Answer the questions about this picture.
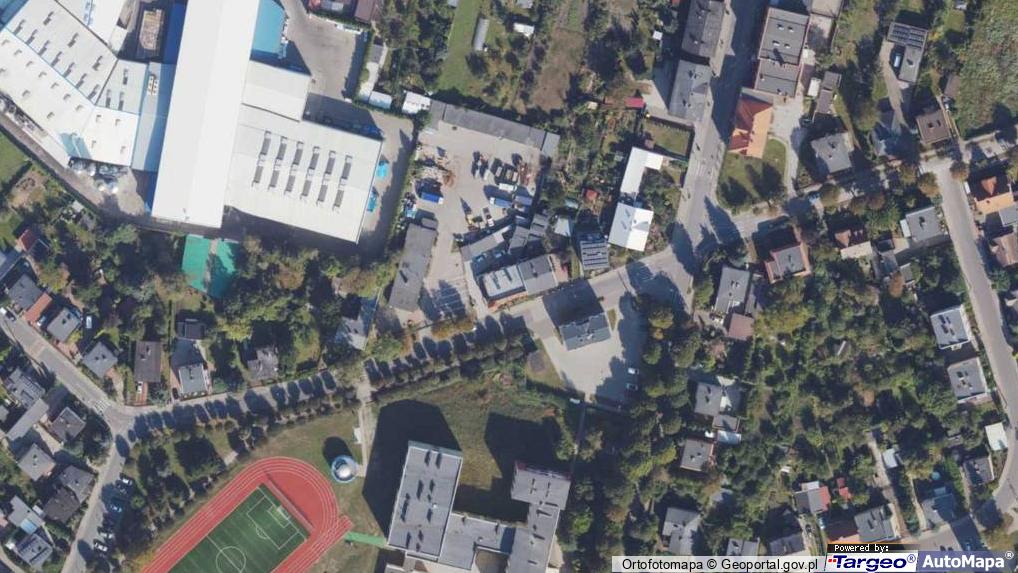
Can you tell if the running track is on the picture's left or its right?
left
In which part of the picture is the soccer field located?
bottom left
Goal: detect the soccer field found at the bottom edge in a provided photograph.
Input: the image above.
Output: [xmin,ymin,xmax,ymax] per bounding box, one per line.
[168,483,311,573]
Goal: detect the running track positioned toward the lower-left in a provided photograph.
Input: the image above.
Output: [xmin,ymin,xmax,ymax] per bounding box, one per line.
[133,461,356,573]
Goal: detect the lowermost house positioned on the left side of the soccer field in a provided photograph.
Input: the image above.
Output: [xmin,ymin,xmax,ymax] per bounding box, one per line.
[15,533,56,567]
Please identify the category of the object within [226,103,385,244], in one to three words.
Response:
building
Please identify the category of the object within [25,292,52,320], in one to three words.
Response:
building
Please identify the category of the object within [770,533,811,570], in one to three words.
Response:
house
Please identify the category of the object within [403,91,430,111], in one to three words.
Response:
shed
